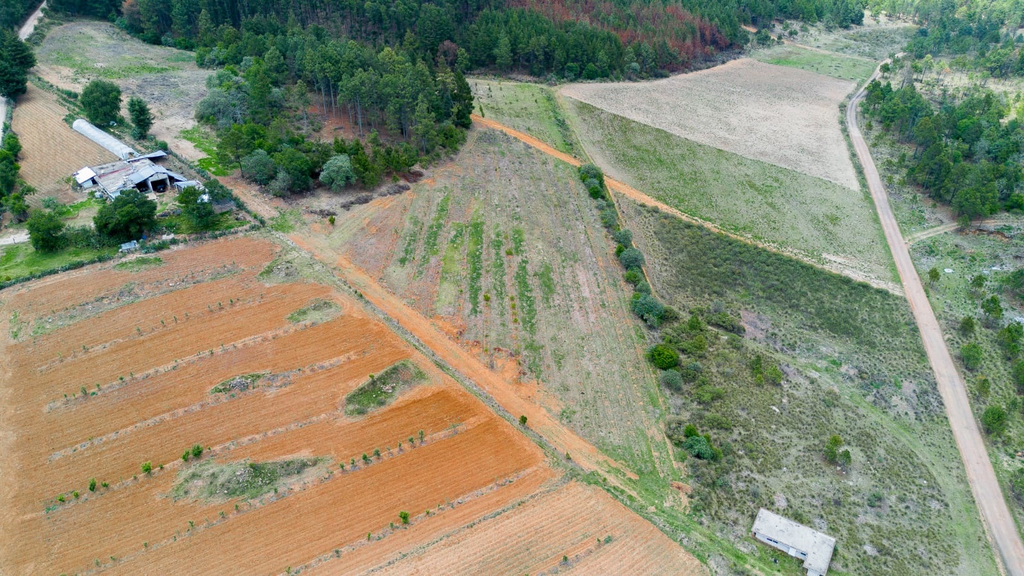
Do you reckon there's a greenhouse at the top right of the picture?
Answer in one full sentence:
No, there's no greenhouse to be seen at the top right of the picture.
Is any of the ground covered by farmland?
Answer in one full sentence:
Yes, there is farmland in the image.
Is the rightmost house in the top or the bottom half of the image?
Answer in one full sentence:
You can find the rightmost house in the bottom half.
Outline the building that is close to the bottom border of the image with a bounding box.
[750,509,835,576]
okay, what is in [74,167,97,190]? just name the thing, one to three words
shed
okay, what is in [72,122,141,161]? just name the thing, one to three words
greenhouse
